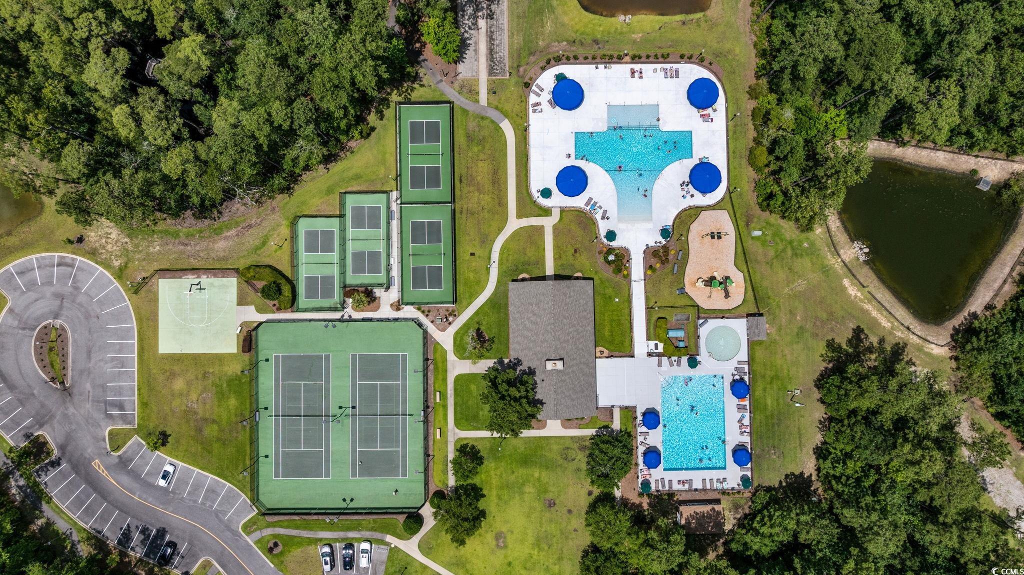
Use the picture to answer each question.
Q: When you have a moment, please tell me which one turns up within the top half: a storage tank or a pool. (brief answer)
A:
pool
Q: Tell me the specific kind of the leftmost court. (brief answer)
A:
basketball court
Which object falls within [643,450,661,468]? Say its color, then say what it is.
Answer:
blue umbrella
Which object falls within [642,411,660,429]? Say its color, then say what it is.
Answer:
blue umbrella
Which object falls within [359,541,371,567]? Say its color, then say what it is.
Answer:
white vehicle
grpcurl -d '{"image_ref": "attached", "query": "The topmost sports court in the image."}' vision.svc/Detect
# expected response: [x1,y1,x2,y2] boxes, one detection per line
[407,120,442,190]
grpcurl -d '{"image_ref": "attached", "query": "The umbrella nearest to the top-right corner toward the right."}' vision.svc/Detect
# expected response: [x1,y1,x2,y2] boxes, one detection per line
[687,77,718,110]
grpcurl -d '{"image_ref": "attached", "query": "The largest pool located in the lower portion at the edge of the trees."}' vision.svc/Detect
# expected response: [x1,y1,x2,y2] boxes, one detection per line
[660,374,729,472]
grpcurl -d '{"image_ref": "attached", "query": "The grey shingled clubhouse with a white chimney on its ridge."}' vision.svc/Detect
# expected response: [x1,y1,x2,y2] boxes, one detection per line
[509,280,597,420]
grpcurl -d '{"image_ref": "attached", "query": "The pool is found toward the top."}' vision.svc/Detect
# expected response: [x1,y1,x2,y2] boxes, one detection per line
[574,102,694,223]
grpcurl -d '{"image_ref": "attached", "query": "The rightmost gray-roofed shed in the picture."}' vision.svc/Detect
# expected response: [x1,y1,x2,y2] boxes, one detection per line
[744,316,767,341]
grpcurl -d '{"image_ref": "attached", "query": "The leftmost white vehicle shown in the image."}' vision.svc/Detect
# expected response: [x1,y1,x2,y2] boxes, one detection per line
[158,462,177,487]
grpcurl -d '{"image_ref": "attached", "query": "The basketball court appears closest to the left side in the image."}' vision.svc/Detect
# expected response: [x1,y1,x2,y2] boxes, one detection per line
[158,278,237,353]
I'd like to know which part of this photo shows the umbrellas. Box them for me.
[660,228,671,239]
[556,165,588,197]
[689,161,721,193]
[541,188,551,198]
[687,358,698,368]
[643,450,661,468]
[687,77,718,110]
[642,411,660,429]
[732,381,749,398]
[641,482,652,493]
[552,78,584,110]
[605,230,616,241]
[741,479,752,489]
[556,73,566,82]
[733,449,751,466]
